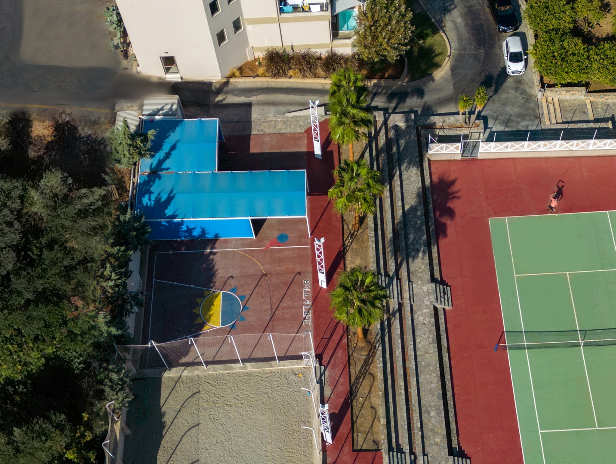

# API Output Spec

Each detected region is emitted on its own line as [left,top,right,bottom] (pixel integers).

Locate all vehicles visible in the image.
[491,0,518,33]
[503,37,528,75]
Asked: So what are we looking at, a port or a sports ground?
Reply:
sports ground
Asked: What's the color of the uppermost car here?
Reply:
black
